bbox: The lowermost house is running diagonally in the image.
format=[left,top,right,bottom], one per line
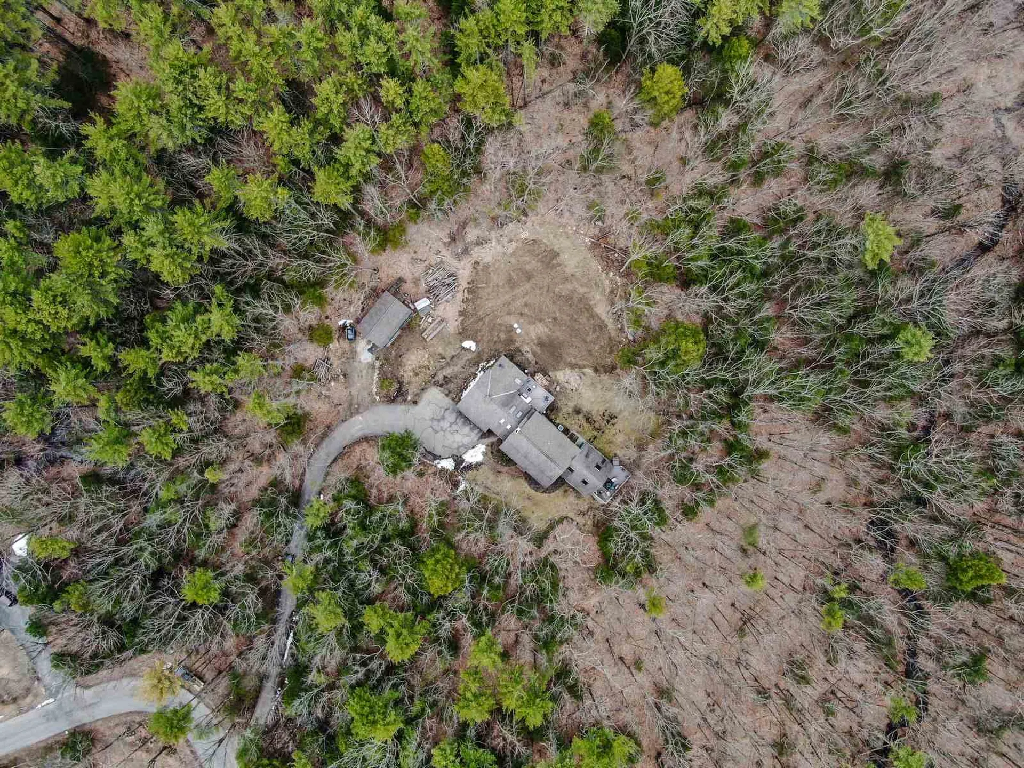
[457,355,629,502]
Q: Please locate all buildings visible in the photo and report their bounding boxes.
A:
[358,291,413,347]
[413,298,431,316]
[457,355,629,502]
